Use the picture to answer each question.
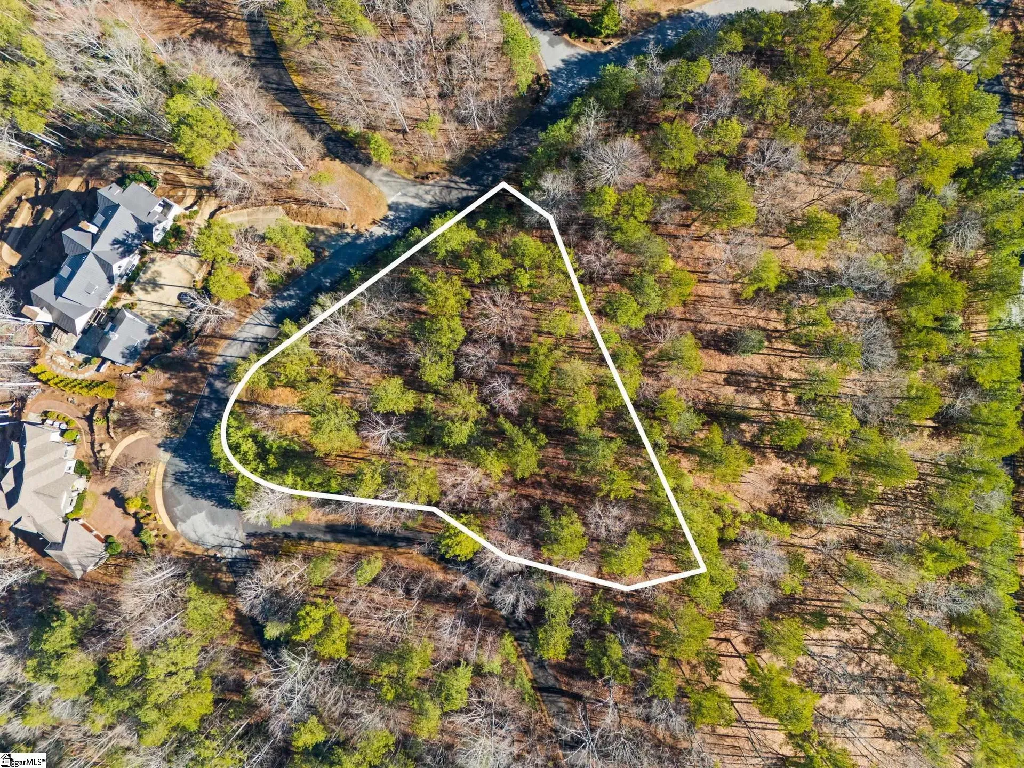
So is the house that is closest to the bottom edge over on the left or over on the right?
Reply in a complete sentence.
The house that is closest to the bottom edge is on the left side of the image.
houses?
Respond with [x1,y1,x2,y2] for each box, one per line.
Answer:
[0,421,112,580]
[19,180,191,337]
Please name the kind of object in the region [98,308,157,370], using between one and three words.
building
